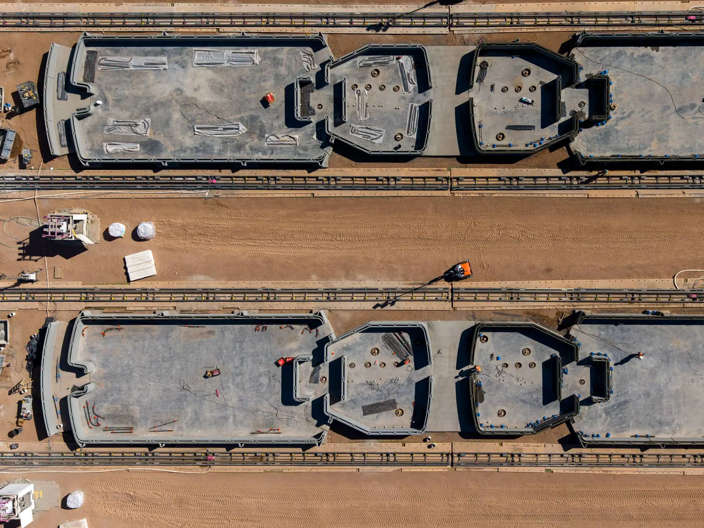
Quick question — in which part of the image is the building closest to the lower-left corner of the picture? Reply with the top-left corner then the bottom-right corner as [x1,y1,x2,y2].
[40,311,434,445]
